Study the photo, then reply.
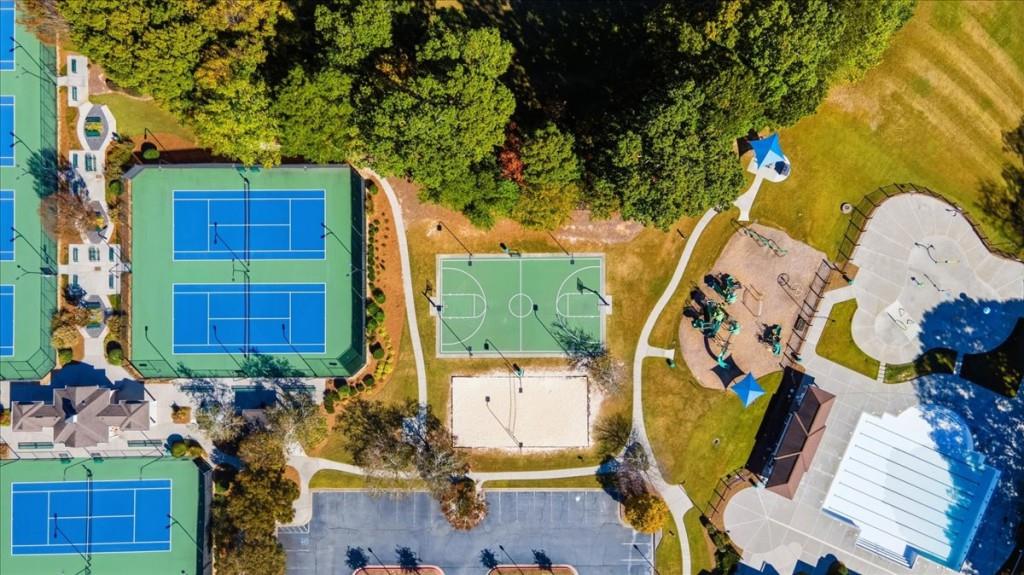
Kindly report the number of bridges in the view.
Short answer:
0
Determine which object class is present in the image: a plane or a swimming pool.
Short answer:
swimming pool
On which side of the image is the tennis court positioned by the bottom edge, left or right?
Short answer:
left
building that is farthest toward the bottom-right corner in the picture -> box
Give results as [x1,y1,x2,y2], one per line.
[761,386,836,499]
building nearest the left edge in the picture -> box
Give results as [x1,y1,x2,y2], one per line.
[11,386,158,448]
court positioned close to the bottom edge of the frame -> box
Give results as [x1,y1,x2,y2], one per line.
[0,460,204,575]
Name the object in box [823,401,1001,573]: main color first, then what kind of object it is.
white swimming pool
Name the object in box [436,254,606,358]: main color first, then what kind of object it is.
green basketball court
